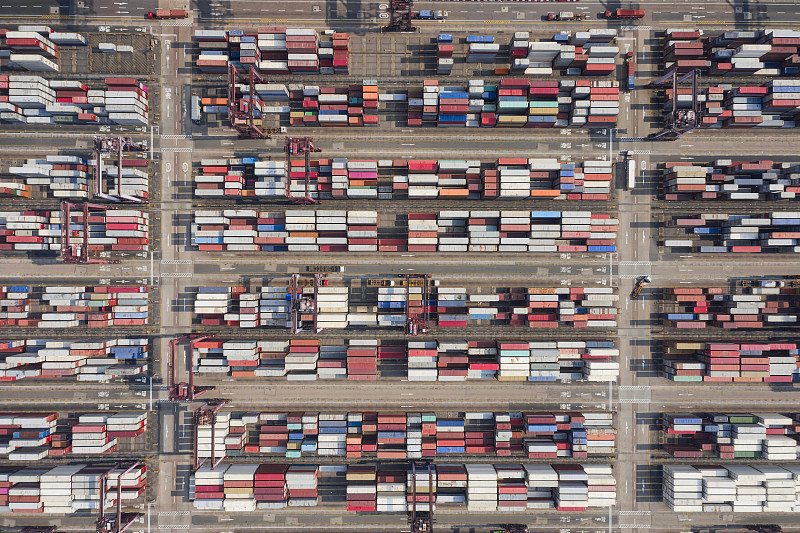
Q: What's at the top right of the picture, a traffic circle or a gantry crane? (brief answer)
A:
gantry crane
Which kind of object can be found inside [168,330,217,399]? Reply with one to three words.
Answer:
container crane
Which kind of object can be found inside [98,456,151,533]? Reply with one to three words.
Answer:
container crane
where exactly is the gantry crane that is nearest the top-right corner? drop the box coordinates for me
[642,60,698,138]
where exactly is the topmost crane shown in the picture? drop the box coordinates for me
[386,0,416,28]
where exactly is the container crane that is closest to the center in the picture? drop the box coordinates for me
[401,272,430,336]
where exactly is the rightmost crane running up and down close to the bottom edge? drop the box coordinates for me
[405,457,434,533]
